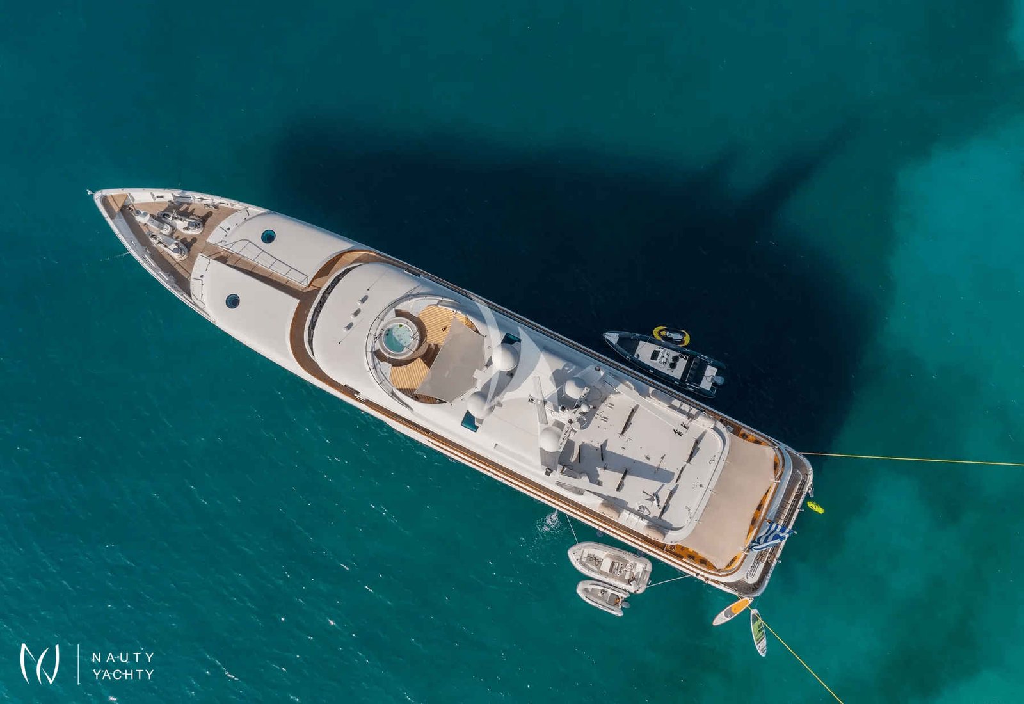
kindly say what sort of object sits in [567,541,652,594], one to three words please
boat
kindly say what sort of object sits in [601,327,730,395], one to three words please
boat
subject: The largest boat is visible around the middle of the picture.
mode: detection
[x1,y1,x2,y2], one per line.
[84,183,815,597]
